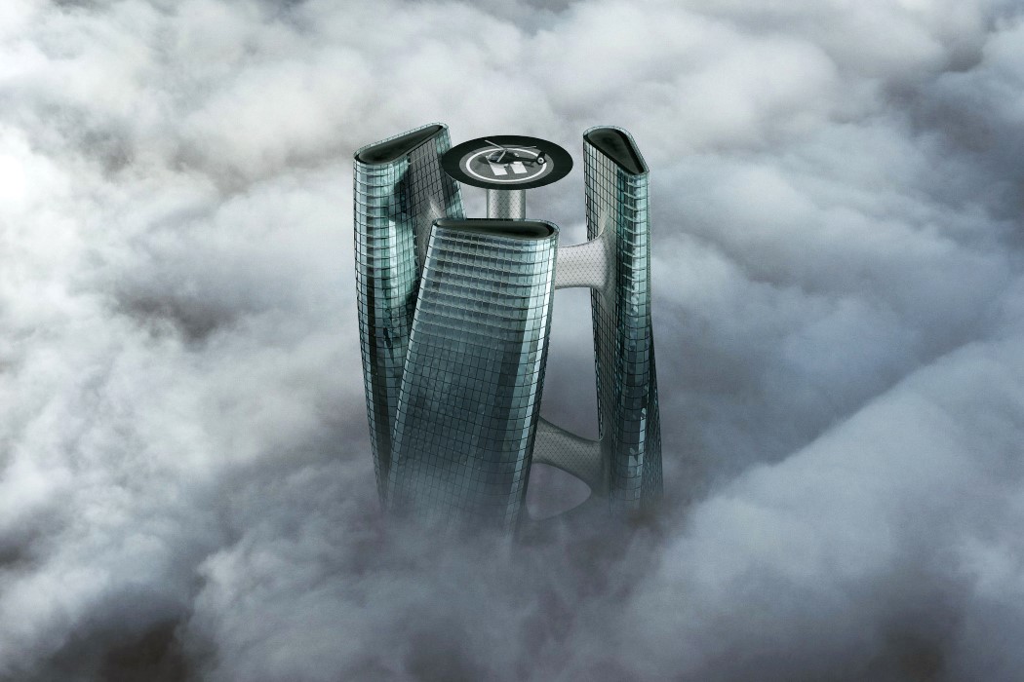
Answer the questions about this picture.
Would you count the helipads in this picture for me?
one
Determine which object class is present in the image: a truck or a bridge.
bridge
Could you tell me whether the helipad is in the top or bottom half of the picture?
top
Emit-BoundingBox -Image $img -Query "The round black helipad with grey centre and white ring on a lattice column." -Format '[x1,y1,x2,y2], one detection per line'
[440,135,574,218]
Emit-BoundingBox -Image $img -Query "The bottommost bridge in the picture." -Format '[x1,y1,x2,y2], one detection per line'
[485,411,615,612]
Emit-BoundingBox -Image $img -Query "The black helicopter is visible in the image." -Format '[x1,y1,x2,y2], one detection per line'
[484,140,547,170]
